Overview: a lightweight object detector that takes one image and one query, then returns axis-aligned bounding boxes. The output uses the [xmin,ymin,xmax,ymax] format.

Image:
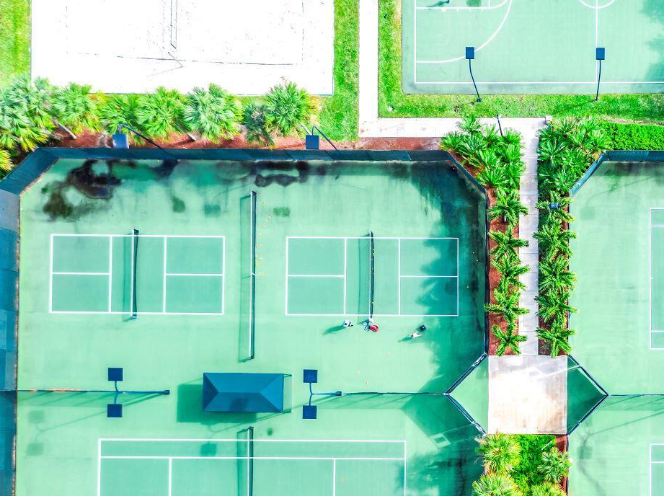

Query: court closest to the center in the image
[285,237,459,316]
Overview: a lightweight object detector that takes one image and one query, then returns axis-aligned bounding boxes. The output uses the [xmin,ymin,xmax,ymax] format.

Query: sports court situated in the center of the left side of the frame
[50,234,223,315]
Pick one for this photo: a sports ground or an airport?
sports ground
